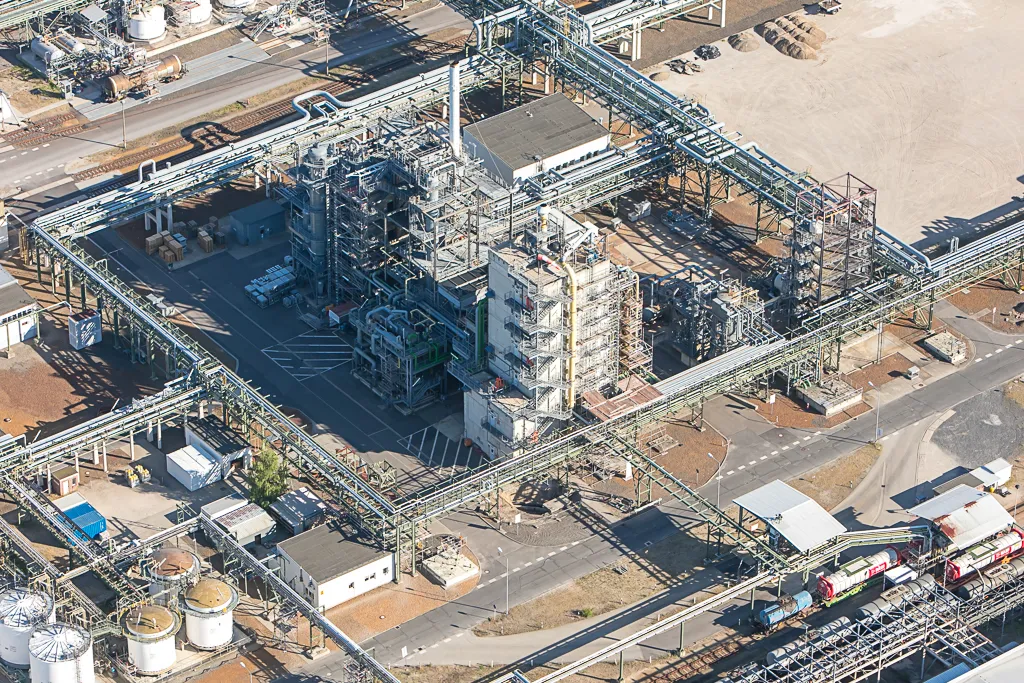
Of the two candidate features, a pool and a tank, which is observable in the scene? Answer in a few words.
tank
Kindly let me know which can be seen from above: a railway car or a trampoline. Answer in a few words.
railway car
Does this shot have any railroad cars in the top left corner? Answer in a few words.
Yes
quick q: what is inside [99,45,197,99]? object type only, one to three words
rail car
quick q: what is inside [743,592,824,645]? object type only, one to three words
rail car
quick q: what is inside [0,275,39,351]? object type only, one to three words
building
